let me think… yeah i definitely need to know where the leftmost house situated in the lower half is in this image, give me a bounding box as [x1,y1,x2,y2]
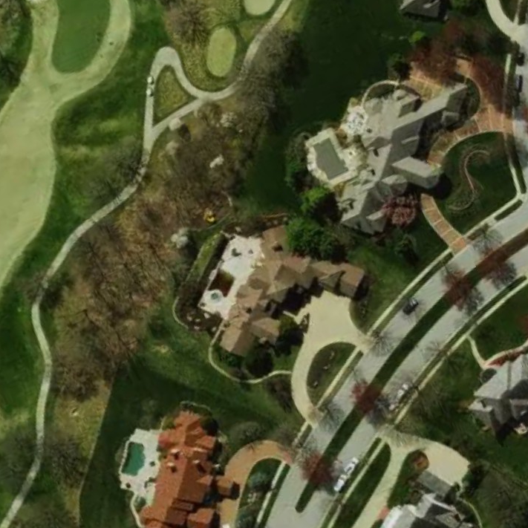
[139,407,236,528]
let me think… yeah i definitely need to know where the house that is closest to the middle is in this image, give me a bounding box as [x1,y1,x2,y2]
[219,226,370,360]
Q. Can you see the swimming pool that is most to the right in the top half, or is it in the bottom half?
top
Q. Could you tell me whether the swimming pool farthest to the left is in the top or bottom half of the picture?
bottom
